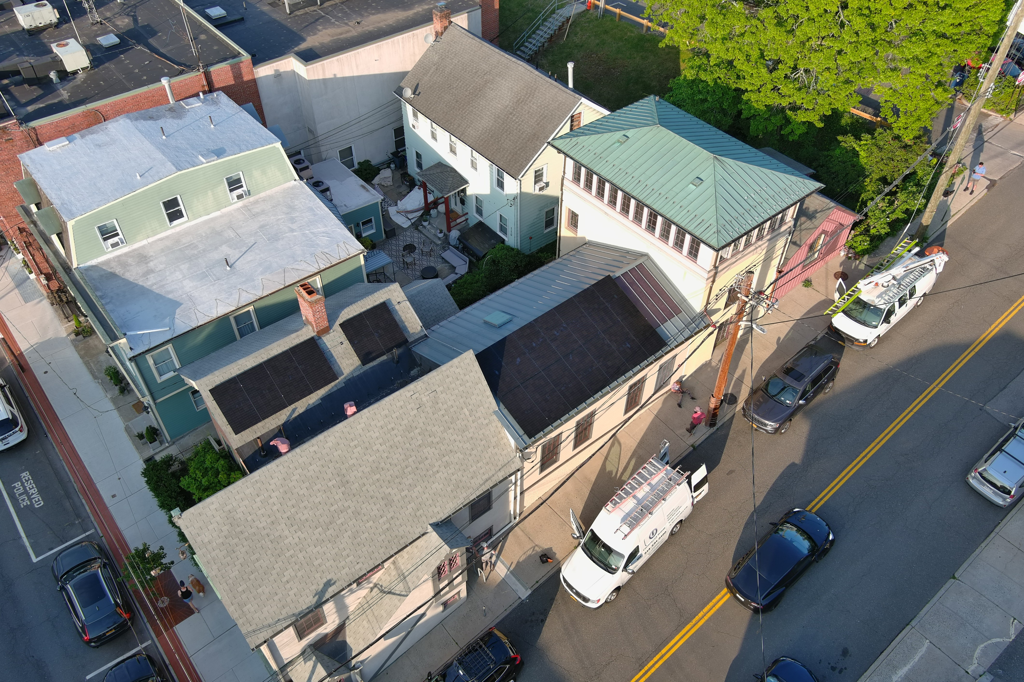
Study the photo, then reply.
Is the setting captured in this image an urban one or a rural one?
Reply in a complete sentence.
It looks urban.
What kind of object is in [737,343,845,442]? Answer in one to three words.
car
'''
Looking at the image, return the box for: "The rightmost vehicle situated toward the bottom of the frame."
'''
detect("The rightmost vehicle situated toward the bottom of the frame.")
[968,413,1024,507]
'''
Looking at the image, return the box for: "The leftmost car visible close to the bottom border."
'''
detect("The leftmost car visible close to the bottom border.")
[44,540,135,659]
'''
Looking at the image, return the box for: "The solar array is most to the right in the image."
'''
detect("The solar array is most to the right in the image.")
[474,276,670,438]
